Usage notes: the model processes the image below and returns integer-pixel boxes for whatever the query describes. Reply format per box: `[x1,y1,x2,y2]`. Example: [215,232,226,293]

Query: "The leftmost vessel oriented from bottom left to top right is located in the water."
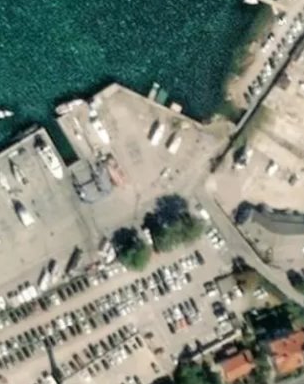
[10,124,37,144]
